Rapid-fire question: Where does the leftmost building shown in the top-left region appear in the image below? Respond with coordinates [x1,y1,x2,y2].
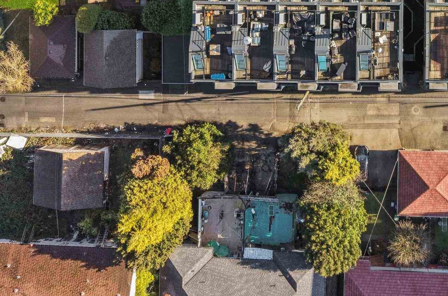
[29,16,84,78]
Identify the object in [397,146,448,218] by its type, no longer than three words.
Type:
building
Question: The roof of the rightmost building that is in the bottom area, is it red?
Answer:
Yes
